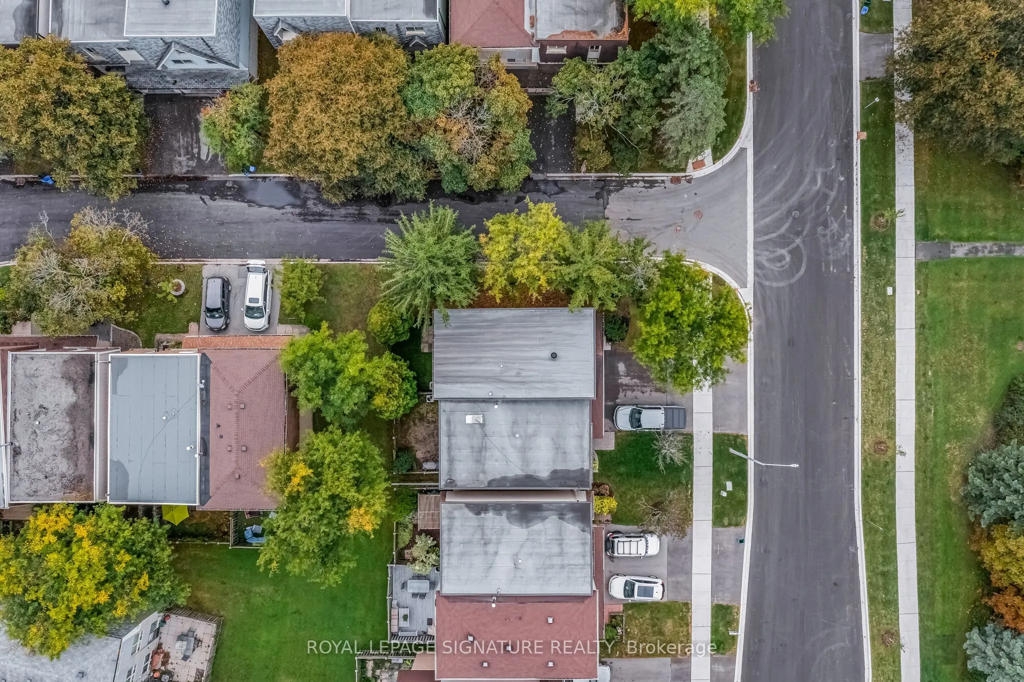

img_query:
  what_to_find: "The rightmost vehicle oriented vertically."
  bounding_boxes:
[242,261,274,331]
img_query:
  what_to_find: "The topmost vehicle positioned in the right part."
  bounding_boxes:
[610,404,684,433]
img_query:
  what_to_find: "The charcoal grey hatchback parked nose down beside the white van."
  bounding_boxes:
[202,276,232,331]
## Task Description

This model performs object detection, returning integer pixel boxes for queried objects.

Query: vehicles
[610,404,684,433]
[604,531,659,561]
[202,276,232,331]
[242,261,274,331]
[605,574,664,605]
